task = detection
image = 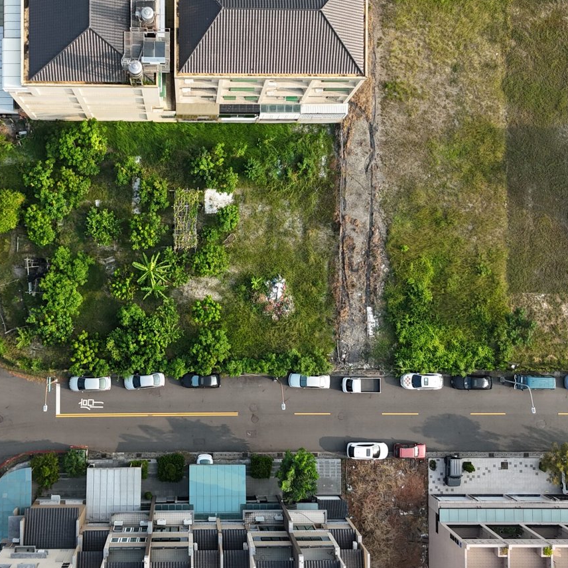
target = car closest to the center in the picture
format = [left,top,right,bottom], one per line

[288,371,330,390]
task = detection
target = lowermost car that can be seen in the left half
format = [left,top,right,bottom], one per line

[197,449,214,464]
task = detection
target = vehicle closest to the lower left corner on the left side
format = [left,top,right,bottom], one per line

[70,374,112,394]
